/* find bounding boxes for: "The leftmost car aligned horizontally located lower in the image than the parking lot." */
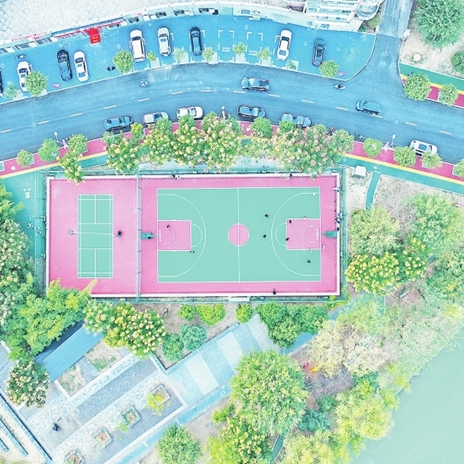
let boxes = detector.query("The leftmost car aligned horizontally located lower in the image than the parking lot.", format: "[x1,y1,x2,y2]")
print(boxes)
[103,115,134,131]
